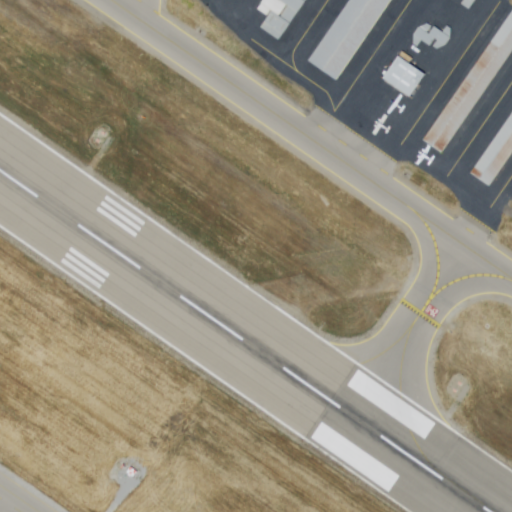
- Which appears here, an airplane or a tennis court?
airplane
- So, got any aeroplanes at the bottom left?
No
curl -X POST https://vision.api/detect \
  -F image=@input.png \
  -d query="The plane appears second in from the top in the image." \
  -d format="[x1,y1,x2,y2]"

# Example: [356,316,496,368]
[374,114,391,135]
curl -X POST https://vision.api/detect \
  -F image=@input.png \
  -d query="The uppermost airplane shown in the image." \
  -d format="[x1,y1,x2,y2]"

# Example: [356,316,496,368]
[388,94,405,114]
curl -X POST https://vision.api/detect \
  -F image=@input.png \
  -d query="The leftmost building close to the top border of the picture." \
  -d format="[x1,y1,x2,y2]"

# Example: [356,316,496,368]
[257,0,307,40]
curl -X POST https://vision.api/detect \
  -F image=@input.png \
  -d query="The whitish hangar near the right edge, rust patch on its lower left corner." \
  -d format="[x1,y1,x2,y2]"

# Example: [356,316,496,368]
[470,112,512,186]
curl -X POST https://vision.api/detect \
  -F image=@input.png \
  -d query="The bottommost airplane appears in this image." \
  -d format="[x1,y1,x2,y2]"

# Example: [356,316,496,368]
[416,146,434,166]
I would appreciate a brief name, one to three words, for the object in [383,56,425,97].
hangar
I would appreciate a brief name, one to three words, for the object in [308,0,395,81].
hangar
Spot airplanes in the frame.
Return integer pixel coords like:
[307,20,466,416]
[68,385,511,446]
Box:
[374,114,391,135]
[416,146,434,166]
[388,94,405,114]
